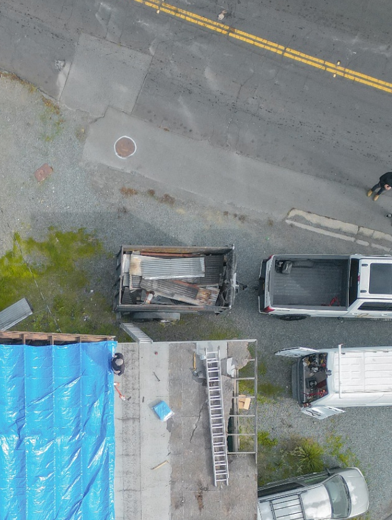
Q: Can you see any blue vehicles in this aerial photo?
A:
No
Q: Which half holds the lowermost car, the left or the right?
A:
right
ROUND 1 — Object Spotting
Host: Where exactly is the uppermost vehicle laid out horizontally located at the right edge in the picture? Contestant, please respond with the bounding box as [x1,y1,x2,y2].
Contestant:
[249,254,392,322]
